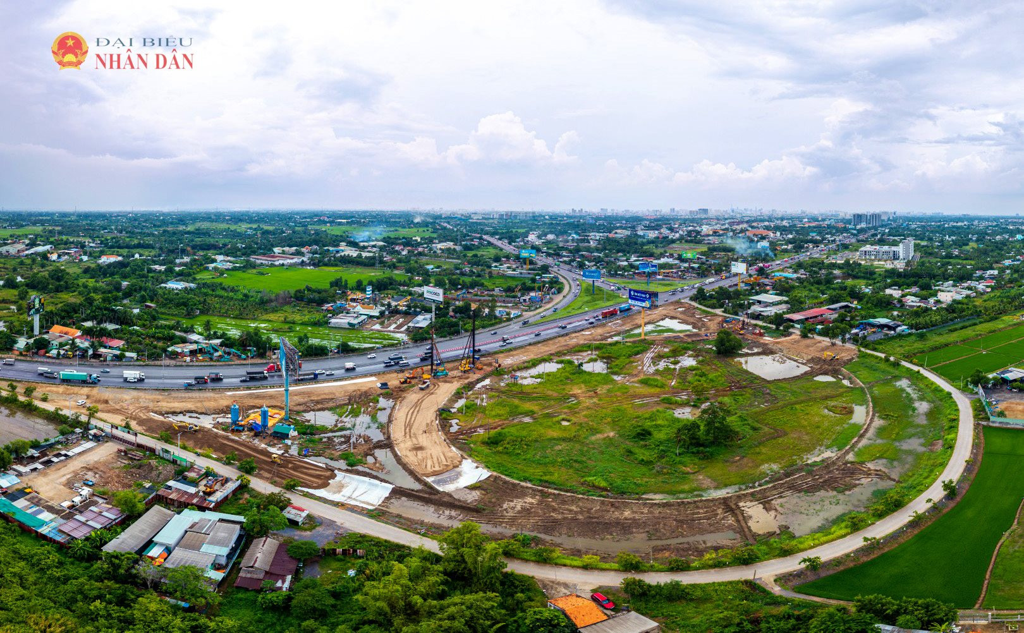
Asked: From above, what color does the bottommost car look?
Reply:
red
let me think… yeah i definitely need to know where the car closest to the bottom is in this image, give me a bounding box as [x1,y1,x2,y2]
[591,586,617,606]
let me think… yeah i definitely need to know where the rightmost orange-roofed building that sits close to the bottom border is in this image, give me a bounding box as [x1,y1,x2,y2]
[553,593,608,633]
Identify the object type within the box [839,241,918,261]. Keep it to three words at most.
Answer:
building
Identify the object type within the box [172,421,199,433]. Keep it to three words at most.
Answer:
vehicle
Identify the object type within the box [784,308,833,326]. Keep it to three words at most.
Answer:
building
